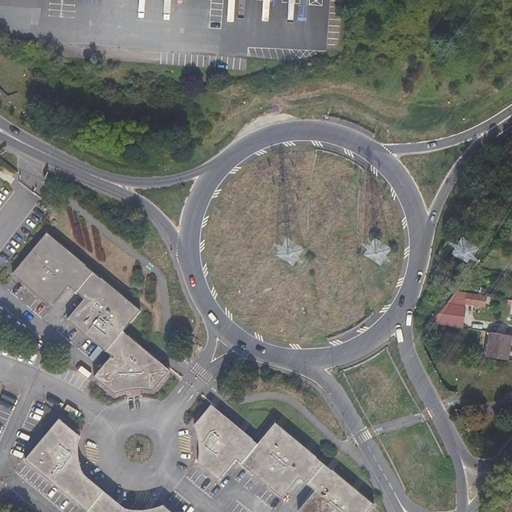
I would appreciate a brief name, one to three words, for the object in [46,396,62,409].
vehicle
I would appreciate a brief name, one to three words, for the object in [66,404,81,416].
vehicle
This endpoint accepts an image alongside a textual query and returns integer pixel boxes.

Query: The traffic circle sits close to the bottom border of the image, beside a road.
[86,398,186,494]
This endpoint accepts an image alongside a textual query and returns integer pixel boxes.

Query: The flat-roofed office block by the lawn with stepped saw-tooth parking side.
[194,404,380,512]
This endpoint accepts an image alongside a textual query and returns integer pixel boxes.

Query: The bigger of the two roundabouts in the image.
[177,118,432,372]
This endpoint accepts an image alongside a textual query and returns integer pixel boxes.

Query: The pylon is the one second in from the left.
[362,240,394,267]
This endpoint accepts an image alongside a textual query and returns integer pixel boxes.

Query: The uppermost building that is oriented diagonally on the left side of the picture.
[12,233,173,397]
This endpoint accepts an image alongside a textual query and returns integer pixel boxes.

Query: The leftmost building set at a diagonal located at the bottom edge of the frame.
[26,419,171,512]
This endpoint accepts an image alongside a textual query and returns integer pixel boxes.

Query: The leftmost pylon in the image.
[274,238,306,266]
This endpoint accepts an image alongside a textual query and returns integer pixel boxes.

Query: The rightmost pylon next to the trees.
[452,236,484,264]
